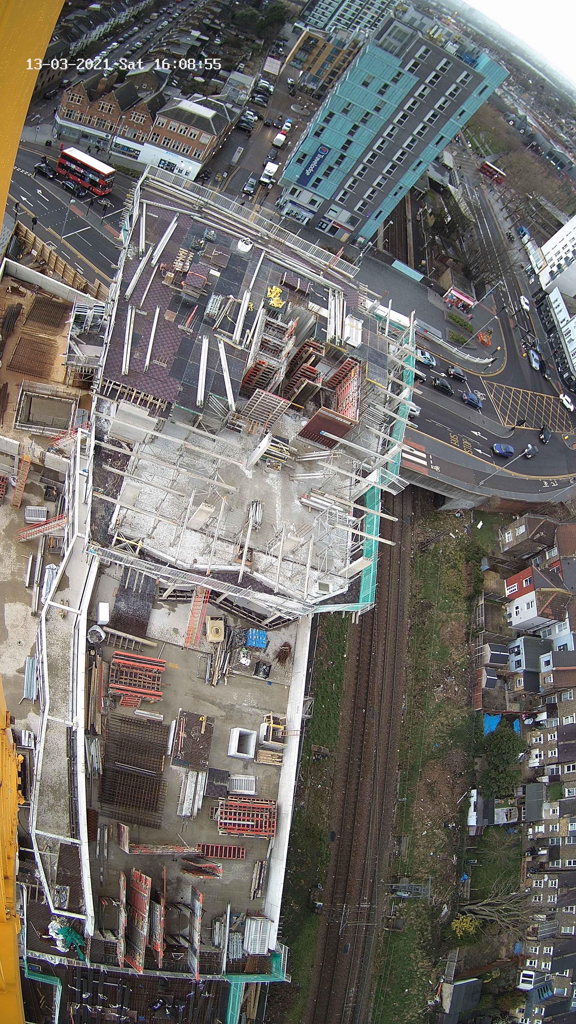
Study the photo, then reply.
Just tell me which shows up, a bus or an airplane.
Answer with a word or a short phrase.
bus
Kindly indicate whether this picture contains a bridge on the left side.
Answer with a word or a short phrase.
No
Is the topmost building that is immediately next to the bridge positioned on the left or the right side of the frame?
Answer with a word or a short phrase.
right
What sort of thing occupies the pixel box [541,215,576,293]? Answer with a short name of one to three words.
building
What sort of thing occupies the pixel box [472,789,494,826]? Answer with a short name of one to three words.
shed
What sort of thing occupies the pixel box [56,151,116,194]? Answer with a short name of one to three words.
bus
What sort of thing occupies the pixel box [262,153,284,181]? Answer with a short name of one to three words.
vehicle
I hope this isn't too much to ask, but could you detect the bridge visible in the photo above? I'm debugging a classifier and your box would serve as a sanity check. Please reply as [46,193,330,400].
[378,331,495,515]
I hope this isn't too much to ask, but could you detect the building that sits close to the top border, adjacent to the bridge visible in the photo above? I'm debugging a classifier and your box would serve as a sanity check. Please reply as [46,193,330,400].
[278,21,507,250]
